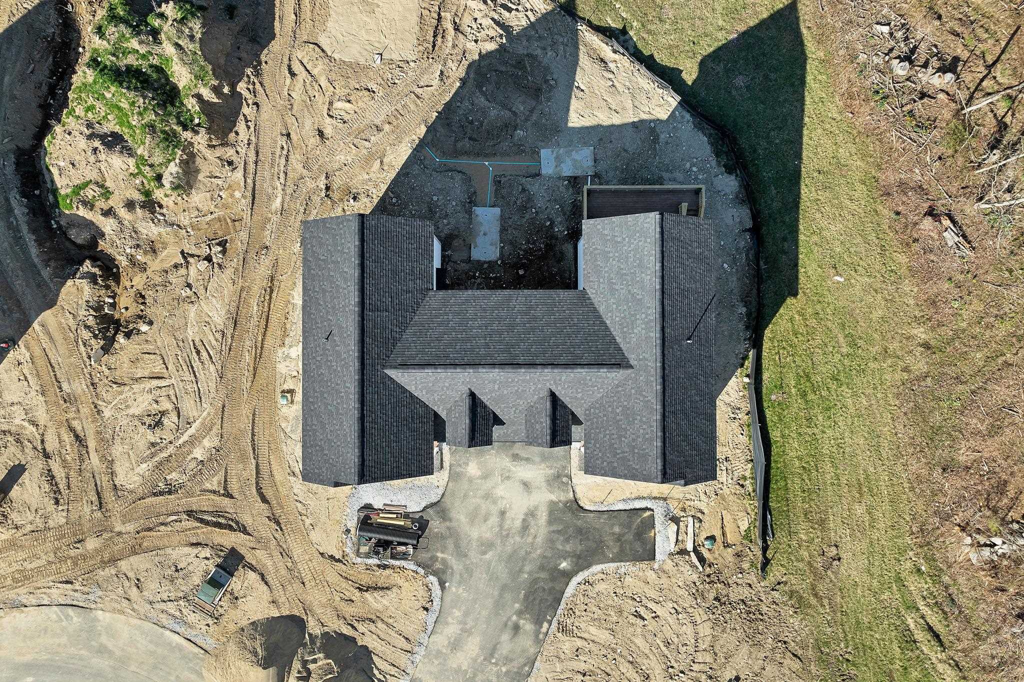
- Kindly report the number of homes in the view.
one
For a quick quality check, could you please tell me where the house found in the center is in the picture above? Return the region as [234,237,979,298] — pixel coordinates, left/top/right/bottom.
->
[302,211,715,487]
